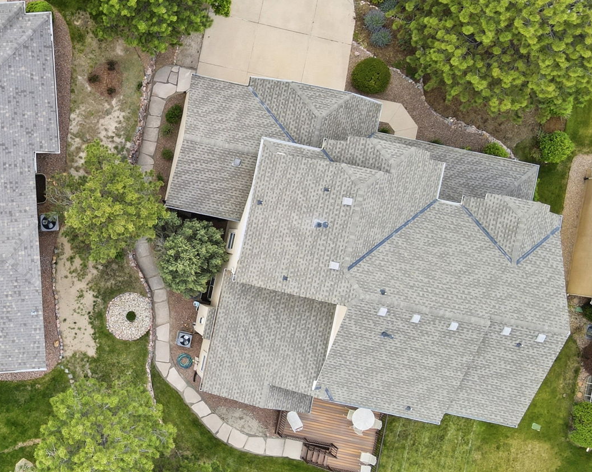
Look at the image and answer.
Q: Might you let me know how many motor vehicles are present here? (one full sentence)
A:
The photo contains no motor vehicles.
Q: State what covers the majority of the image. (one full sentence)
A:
What you mostly see from above here is buildings.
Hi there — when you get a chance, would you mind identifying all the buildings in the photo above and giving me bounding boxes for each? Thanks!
[566,175,592,297]
[156,72,571,429]
[0,0,62,375]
